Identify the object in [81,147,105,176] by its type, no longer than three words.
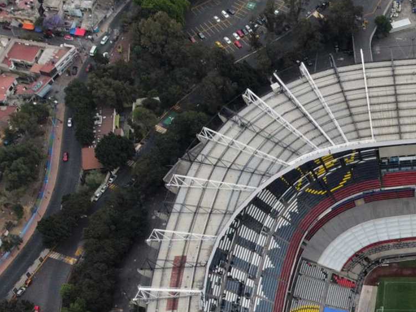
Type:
house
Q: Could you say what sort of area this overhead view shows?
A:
sports ground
